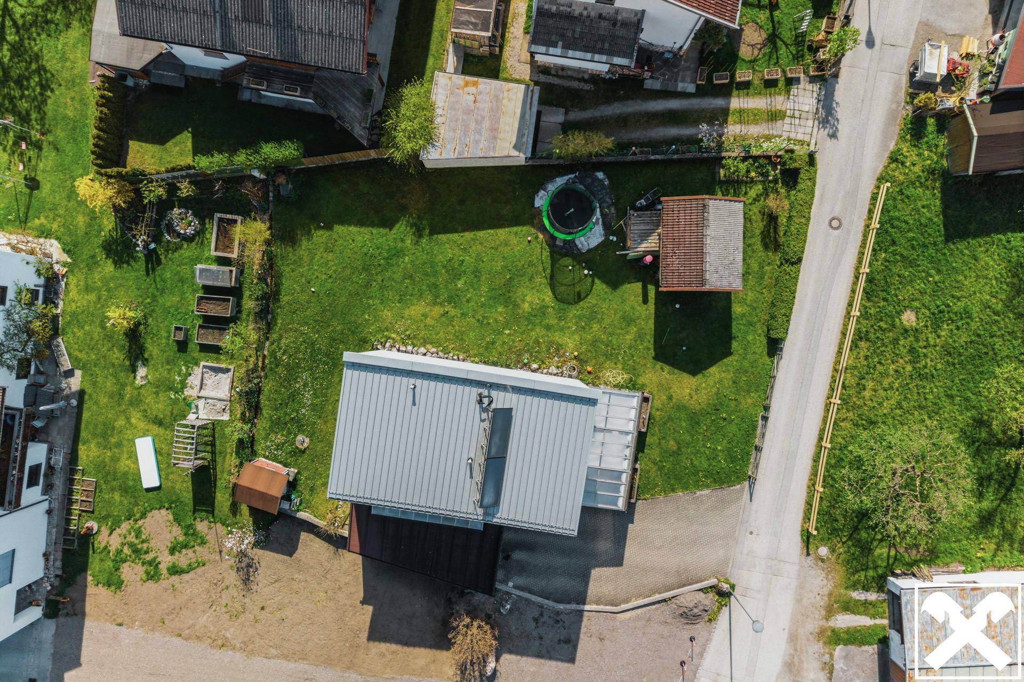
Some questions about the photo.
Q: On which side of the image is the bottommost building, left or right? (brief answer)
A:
right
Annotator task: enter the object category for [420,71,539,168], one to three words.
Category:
building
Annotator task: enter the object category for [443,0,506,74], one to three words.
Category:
shed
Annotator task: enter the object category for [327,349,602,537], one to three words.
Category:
house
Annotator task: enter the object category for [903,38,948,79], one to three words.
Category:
trailer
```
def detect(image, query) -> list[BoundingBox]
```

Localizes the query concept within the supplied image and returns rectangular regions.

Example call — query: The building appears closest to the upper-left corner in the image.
[90,0,386,145]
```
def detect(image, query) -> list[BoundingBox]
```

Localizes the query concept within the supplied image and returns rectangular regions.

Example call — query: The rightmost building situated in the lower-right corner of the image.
[889,569,1024,682]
